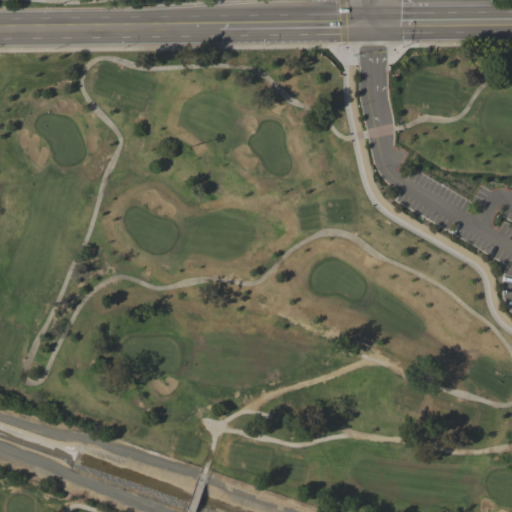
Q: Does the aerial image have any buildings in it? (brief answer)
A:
No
